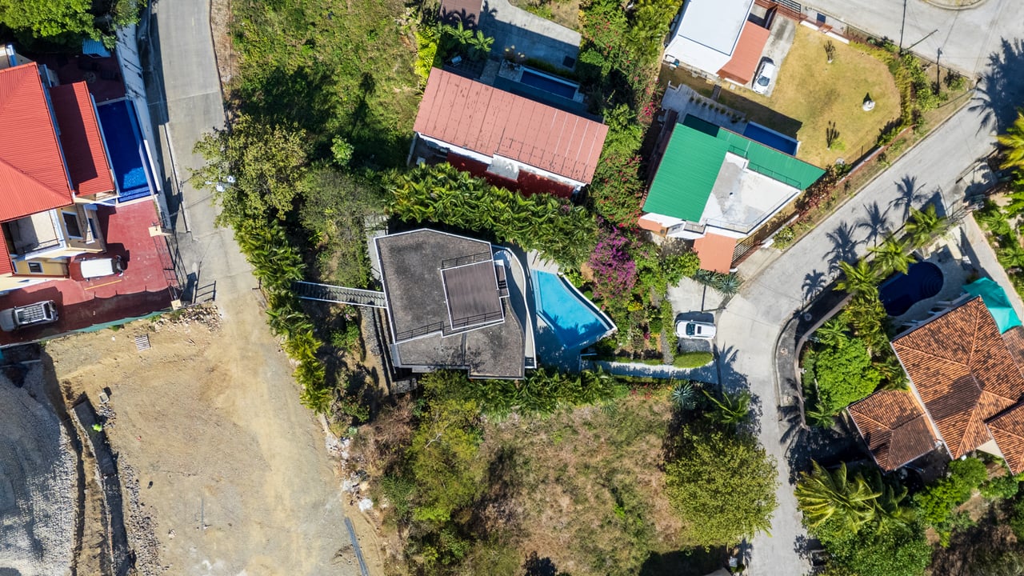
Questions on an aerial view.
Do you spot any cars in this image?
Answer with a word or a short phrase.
Yes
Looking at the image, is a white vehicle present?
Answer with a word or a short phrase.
Yes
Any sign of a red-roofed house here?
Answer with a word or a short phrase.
Yes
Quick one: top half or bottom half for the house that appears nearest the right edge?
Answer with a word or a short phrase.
bottom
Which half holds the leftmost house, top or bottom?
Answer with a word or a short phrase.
top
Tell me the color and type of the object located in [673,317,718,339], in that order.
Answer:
white car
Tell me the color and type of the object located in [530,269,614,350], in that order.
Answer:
blue swimming pool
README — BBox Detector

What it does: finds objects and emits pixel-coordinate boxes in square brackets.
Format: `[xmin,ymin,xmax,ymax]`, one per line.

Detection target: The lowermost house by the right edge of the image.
[839,290,1024,475]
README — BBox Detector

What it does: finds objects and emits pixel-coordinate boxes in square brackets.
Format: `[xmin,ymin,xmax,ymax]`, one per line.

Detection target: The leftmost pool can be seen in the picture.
[98,99,149,198]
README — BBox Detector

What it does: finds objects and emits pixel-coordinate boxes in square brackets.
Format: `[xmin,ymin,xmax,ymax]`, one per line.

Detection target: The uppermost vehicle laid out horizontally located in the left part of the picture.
[77,255,126,278]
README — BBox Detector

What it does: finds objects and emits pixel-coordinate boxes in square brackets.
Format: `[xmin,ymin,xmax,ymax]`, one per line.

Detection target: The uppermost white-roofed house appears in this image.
[663,0,770,91]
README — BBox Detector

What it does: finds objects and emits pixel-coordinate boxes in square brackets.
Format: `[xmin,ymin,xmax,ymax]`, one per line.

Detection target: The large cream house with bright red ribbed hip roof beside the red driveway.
[0,45,123,289]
